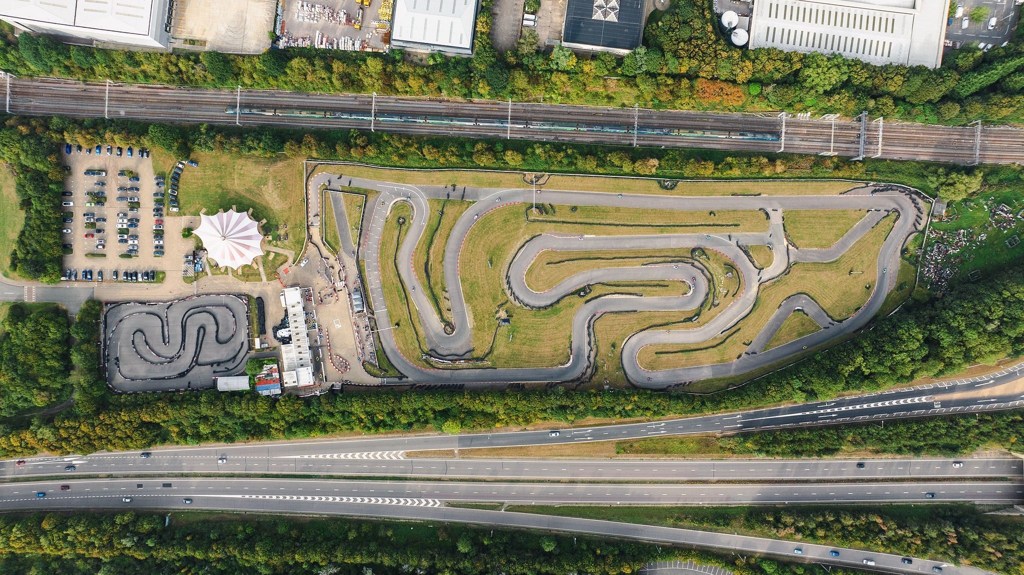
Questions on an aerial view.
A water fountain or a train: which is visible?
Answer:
train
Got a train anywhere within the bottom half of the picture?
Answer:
No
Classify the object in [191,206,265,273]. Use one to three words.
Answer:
tent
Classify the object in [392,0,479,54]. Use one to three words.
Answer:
building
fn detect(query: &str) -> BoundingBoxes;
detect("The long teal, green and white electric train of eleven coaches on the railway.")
[227,108,778,142]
